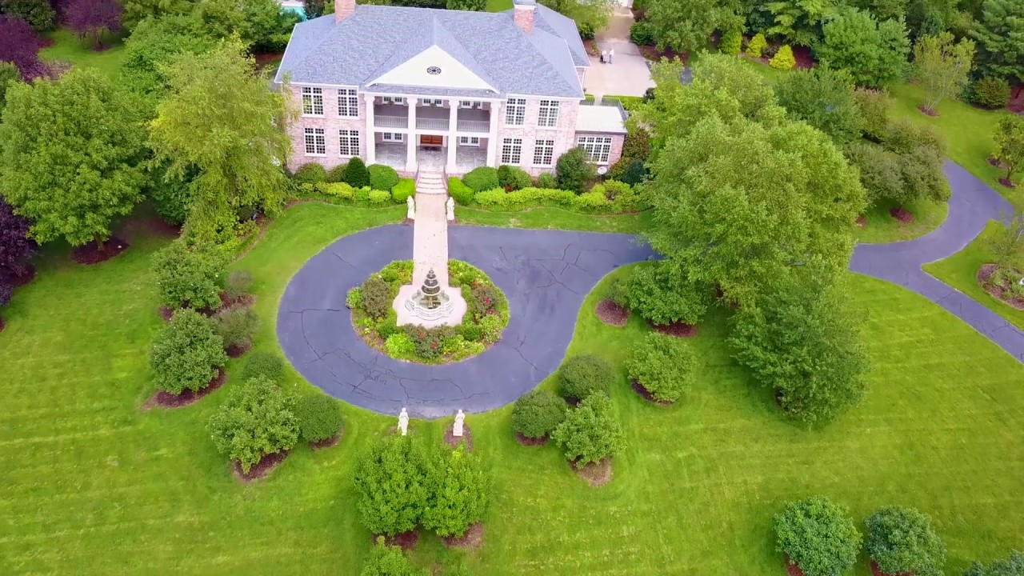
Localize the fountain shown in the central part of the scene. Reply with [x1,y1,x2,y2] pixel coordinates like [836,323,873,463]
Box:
[404,267,456,323]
